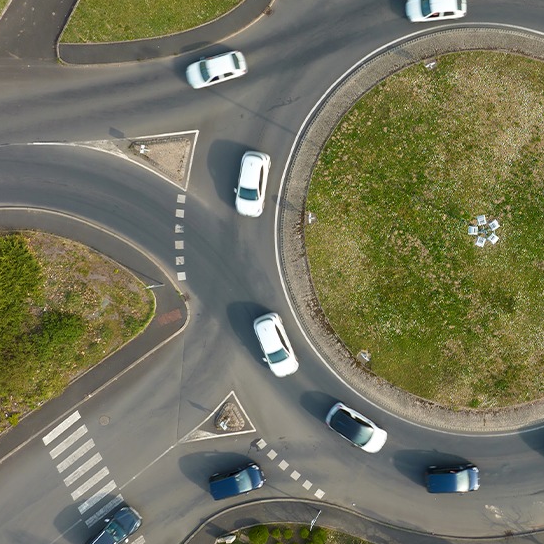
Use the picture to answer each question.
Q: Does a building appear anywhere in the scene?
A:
No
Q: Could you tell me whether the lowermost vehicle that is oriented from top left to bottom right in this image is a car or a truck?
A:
car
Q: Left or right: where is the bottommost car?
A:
left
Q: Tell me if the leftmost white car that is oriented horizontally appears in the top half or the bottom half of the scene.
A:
top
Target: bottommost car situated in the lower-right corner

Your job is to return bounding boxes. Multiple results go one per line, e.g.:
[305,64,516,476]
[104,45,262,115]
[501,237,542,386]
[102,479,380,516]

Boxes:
[424,463,481,495]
